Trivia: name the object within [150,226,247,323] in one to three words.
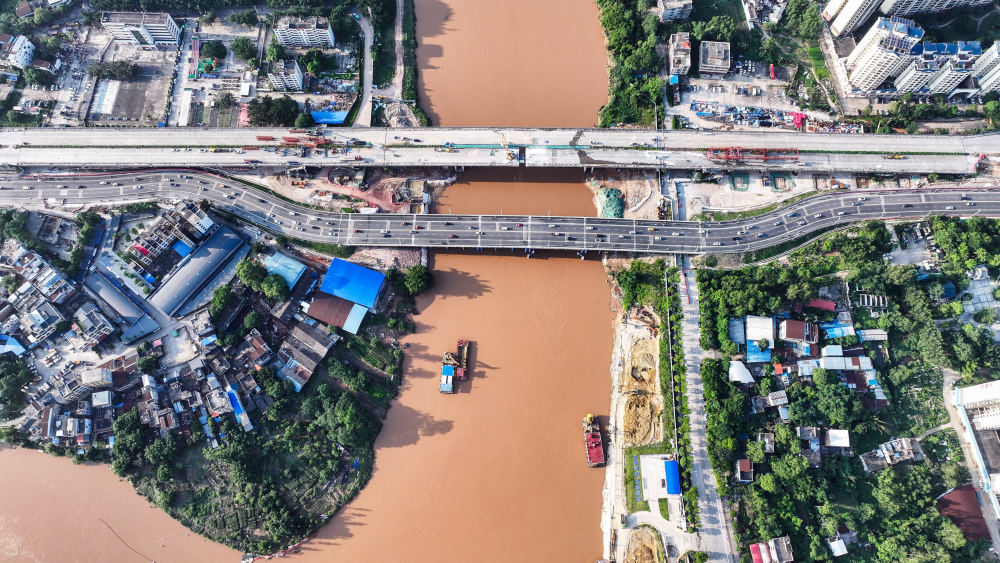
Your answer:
building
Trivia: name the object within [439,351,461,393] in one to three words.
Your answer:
ship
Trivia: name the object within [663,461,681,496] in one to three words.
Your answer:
shed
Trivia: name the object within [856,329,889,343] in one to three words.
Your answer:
house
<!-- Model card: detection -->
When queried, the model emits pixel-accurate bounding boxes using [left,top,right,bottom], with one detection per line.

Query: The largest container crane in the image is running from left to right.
[706,146,799,163]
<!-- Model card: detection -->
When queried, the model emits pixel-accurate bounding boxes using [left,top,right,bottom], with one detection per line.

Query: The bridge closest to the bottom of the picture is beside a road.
[337,213,707,263]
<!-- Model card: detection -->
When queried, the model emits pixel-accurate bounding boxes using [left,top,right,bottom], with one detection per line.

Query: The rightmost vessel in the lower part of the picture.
[578,416,606,467]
